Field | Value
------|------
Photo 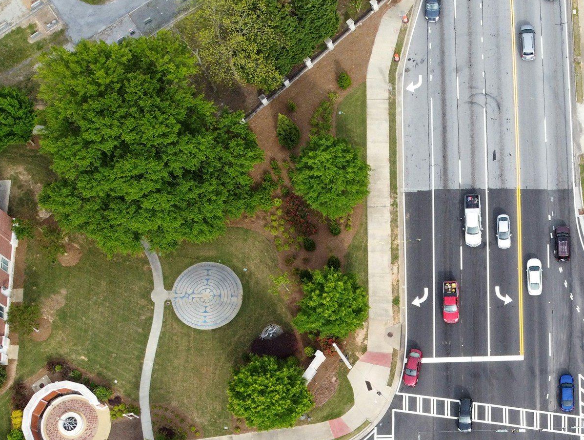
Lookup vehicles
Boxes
[495,213,512,249]
[455,397,474,432]
[526,258,545,296]
[558,374,577,411]
[555,223,573,261]
[518,24,538,61]
[423,0,442,23]
[462,192,483,247]
[441,280,460,323]
[402,347,423,388]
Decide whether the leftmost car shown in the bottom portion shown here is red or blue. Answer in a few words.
red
